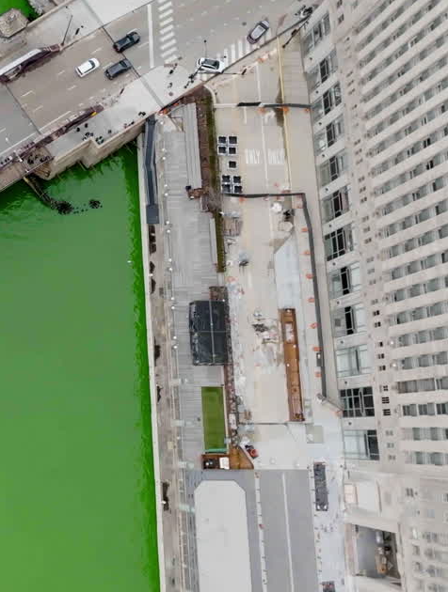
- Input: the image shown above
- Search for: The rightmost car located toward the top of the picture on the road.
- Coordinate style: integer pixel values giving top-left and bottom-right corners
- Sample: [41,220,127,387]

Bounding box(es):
[247,19,269,43]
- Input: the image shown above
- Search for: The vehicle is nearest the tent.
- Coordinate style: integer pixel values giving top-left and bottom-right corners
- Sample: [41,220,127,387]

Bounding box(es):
[243,439,259,459]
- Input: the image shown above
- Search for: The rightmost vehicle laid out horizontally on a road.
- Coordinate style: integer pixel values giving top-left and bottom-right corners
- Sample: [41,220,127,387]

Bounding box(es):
[196,59,223,72]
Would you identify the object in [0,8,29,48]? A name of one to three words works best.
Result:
house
